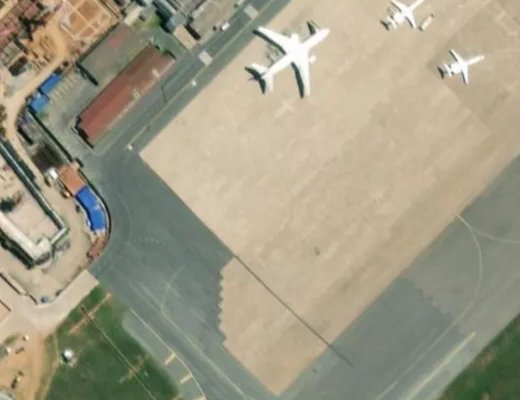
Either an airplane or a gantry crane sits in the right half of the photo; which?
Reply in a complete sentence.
What appears in the right half of the photo is an airplane.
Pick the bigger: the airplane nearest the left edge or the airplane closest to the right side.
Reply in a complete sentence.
The airplane nearest the left edge covers a greater area than the airplane closest to the right side.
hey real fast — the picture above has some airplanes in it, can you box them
[391,0,424,29]
[446,49,483,83]
[250,26,329,98]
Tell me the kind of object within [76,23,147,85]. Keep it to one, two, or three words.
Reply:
building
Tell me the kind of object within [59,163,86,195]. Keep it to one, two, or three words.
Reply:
building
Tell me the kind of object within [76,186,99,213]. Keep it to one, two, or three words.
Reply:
shed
